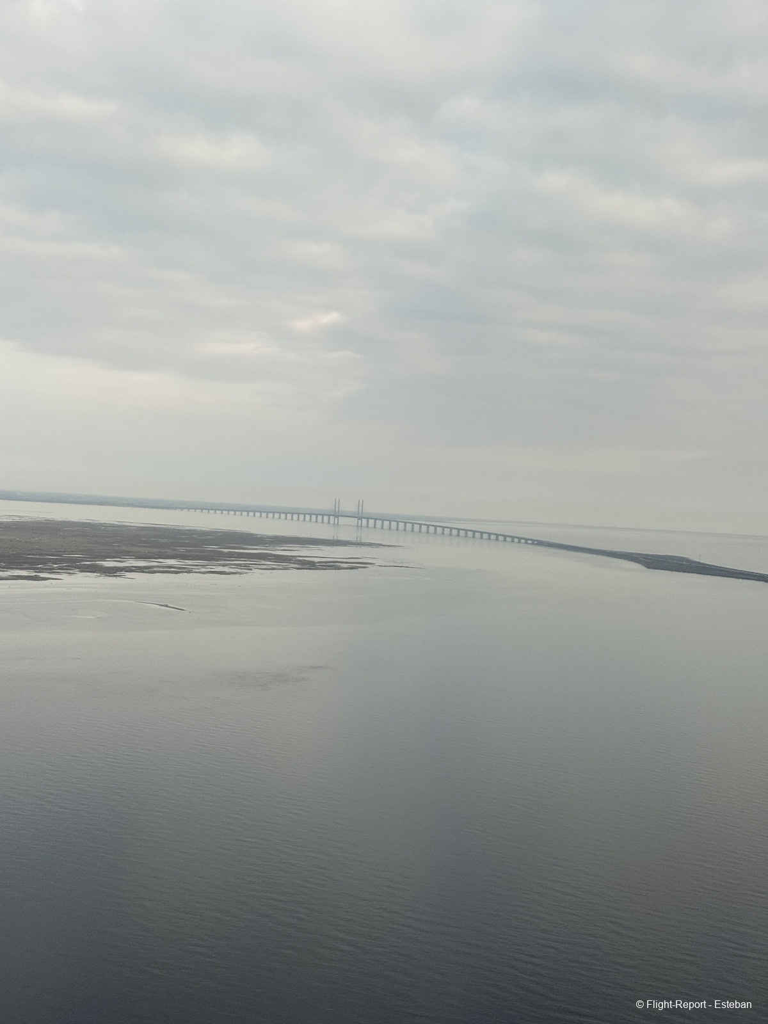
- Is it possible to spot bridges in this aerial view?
Yes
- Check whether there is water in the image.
Yes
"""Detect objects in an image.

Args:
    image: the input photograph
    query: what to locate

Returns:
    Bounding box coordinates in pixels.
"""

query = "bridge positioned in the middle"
[168,499,548,544]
